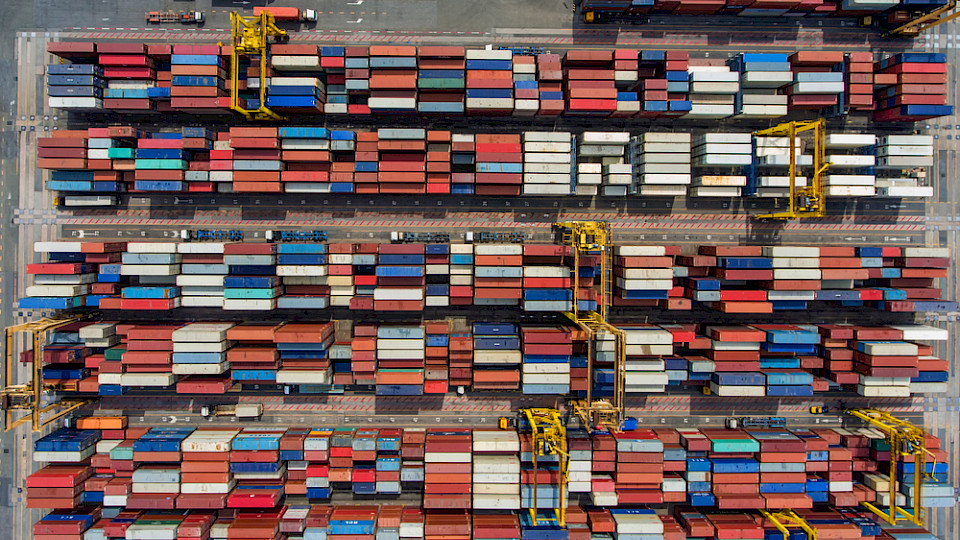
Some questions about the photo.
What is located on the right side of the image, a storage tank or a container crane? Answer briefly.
container crane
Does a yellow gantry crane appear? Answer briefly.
Yes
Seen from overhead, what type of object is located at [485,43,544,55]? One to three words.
vehicle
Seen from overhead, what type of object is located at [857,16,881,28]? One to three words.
vehicle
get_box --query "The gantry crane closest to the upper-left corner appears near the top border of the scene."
[230,11,291,123]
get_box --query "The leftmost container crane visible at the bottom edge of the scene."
[518,407,578,528]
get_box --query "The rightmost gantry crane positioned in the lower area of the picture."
[838,410,946,531]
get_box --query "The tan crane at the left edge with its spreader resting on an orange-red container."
[0,309,98,427]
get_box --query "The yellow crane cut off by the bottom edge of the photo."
[751,506,823,540]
